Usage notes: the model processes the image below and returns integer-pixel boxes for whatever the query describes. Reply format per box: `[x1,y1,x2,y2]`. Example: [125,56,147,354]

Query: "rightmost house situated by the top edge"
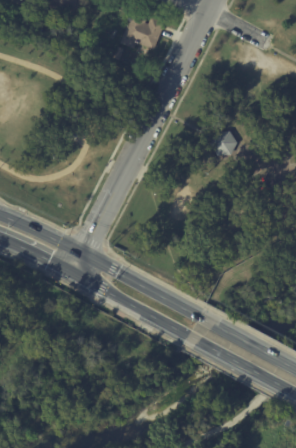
[126,20,163,52]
